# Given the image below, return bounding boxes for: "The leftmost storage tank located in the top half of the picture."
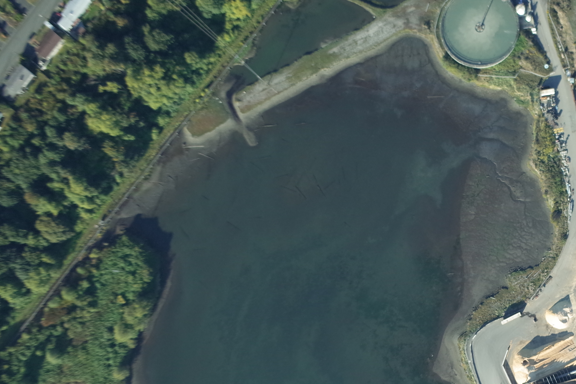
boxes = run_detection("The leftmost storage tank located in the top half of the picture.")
[441,0,520,69]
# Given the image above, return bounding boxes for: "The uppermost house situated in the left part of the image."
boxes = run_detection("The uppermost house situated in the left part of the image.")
[56,0,95,32]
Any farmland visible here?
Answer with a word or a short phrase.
No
